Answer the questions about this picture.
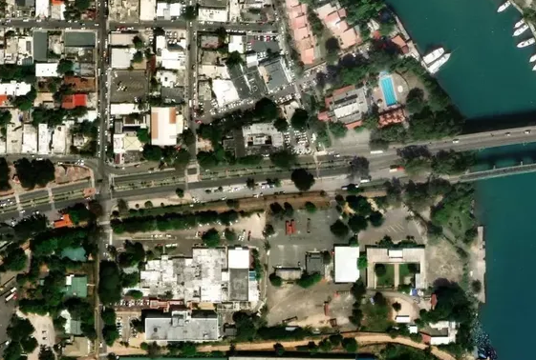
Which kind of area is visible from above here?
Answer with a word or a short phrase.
residential area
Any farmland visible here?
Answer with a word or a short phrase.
No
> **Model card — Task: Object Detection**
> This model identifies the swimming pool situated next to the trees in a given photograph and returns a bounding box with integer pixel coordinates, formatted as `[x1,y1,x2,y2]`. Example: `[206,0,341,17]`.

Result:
[379,73,397,106]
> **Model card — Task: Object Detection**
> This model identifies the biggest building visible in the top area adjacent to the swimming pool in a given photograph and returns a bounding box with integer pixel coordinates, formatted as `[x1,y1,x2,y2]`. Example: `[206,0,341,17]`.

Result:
[322,85,368,123]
